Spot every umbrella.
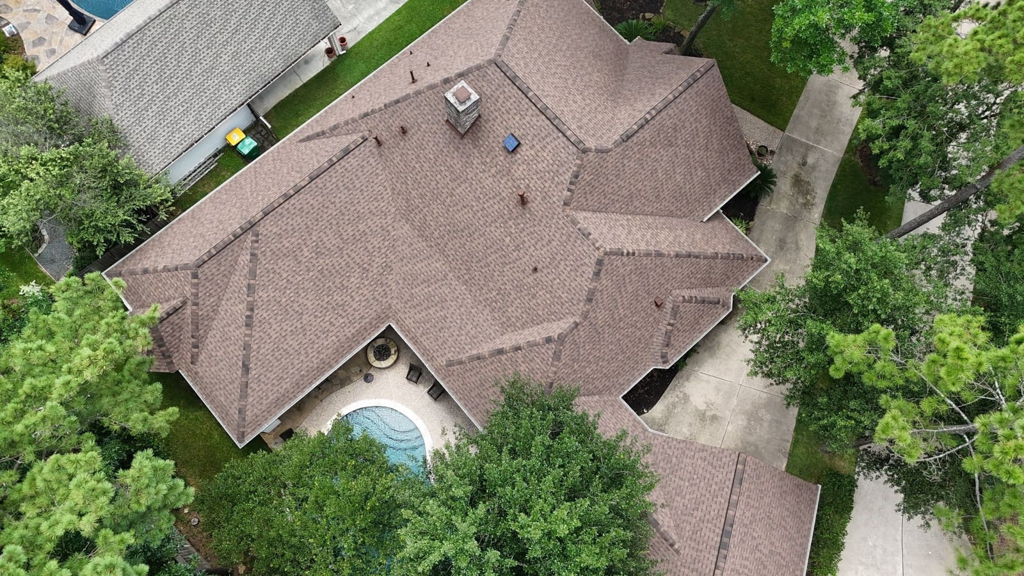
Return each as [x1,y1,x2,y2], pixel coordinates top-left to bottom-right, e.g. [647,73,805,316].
[57,0,94,34]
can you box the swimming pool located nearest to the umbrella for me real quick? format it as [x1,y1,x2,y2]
[70,0,133,21]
